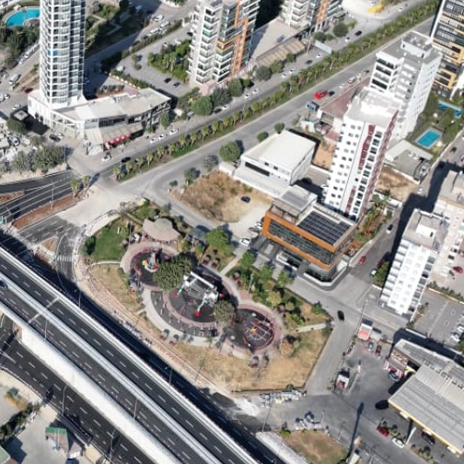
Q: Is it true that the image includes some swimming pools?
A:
Yes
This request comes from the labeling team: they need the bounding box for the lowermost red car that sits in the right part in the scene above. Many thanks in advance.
[374,425,390,438]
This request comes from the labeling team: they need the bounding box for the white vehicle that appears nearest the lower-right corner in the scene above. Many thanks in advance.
[388,437,406,451]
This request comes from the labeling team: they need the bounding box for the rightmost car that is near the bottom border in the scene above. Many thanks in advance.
[419,431,436,445]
